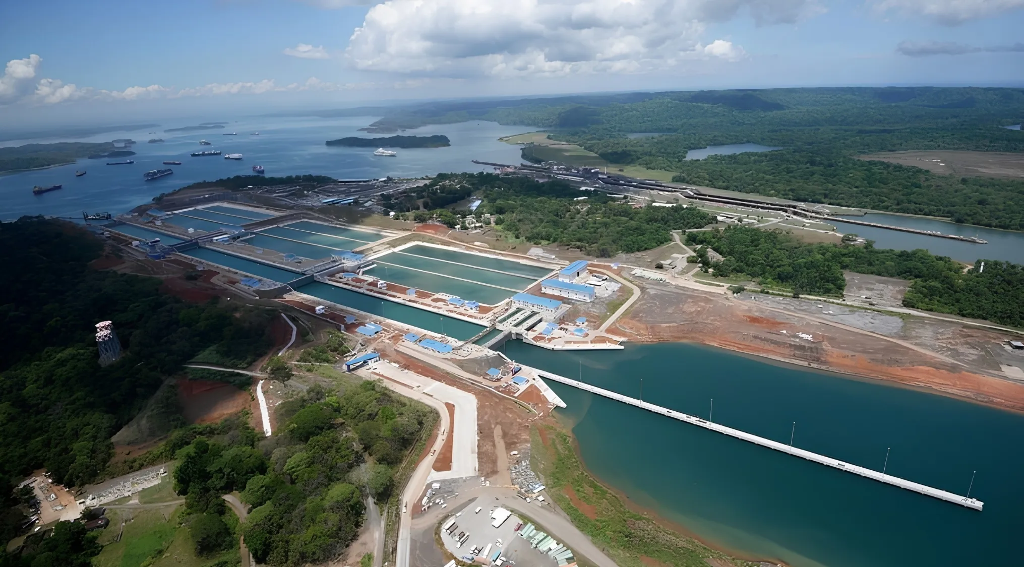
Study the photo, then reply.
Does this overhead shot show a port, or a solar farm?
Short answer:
port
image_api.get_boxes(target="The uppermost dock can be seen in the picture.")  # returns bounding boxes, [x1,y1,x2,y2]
[473,162,990,243]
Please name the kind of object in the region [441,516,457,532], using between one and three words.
vehicle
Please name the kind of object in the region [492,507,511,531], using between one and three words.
building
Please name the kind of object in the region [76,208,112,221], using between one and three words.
ship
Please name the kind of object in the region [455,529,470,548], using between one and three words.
vehicle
